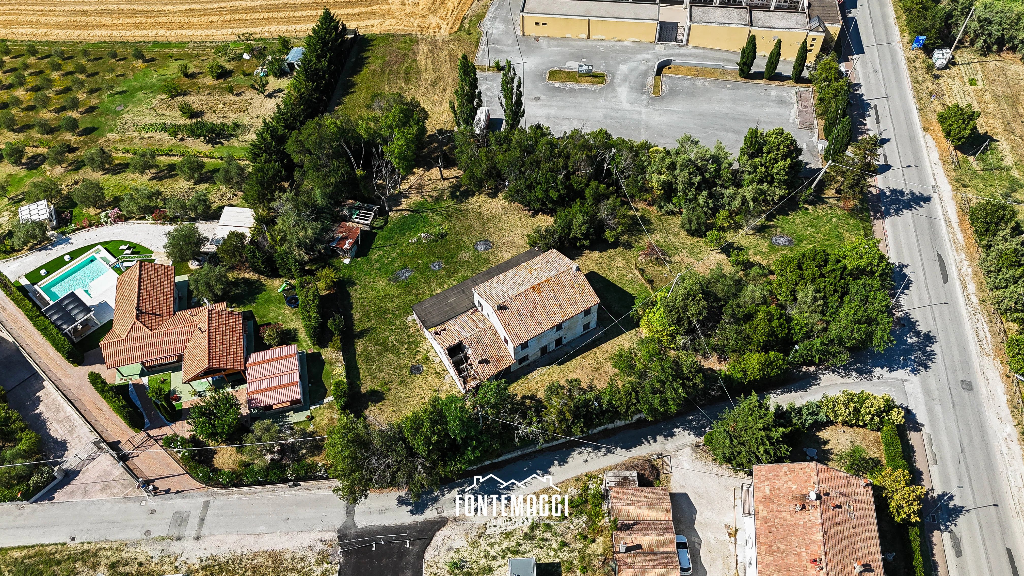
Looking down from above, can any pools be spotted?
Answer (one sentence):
Yes, the picture does show a pool.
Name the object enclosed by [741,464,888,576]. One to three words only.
house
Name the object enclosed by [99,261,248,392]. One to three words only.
house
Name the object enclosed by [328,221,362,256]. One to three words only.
shed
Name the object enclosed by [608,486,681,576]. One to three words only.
shed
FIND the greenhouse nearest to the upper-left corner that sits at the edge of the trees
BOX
[285,43,310,71]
